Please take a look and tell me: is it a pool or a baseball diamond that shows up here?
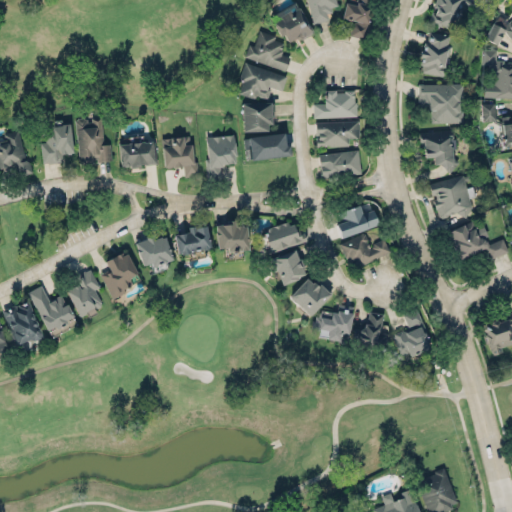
pool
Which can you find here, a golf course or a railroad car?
golf course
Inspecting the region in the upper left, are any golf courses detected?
Yes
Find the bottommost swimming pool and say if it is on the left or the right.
right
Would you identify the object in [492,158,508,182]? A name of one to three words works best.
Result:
swimming pool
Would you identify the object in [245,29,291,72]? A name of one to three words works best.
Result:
house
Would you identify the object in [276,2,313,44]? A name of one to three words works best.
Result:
house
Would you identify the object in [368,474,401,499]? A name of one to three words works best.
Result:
swimming pool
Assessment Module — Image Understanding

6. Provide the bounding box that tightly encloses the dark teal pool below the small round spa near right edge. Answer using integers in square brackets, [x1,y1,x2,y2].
[486,124,503,146]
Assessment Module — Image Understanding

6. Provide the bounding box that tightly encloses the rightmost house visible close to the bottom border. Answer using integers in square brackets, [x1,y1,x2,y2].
[418,467,458,512]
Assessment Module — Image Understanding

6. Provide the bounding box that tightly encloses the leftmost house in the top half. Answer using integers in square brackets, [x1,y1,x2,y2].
[0,130,34,174]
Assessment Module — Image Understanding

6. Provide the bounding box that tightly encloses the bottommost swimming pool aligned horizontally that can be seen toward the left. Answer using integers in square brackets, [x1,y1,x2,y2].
[188,254,215,269]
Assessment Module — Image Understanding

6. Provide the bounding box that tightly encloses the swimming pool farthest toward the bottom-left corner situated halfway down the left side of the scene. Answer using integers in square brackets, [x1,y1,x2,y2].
[122,282,148,301]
